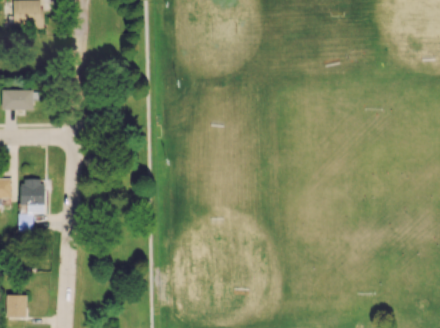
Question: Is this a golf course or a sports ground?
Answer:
sports ground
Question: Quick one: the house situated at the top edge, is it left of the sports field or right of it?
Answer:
to the left of it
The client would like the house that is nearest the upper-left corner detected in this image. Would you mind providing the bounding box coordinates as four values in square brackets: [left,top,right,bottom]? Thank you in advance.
[12,0,44,29]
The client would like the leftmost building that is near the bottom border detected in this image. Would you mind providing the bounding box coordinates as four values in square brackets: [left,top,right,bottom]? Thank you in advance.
[6,295,27,317]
